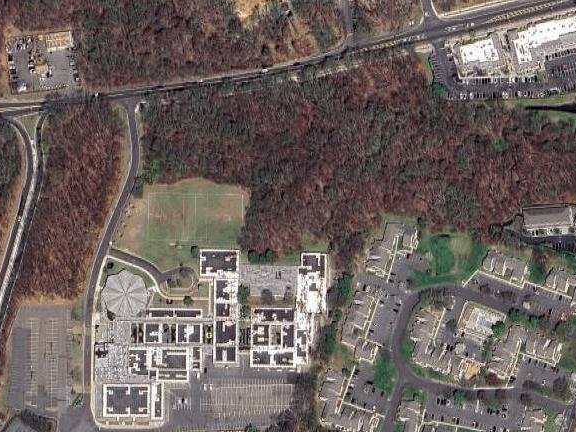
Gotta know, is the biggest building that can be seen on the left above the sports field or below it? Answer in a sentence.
In the image, the biggest building that can be seen on the left sits below the sports field.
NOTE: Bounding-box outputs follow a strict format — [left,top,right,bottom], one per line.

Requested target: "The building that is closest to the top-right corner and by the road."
[507,17,576,69]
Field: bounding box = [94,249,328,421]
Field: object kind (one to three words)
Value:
building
